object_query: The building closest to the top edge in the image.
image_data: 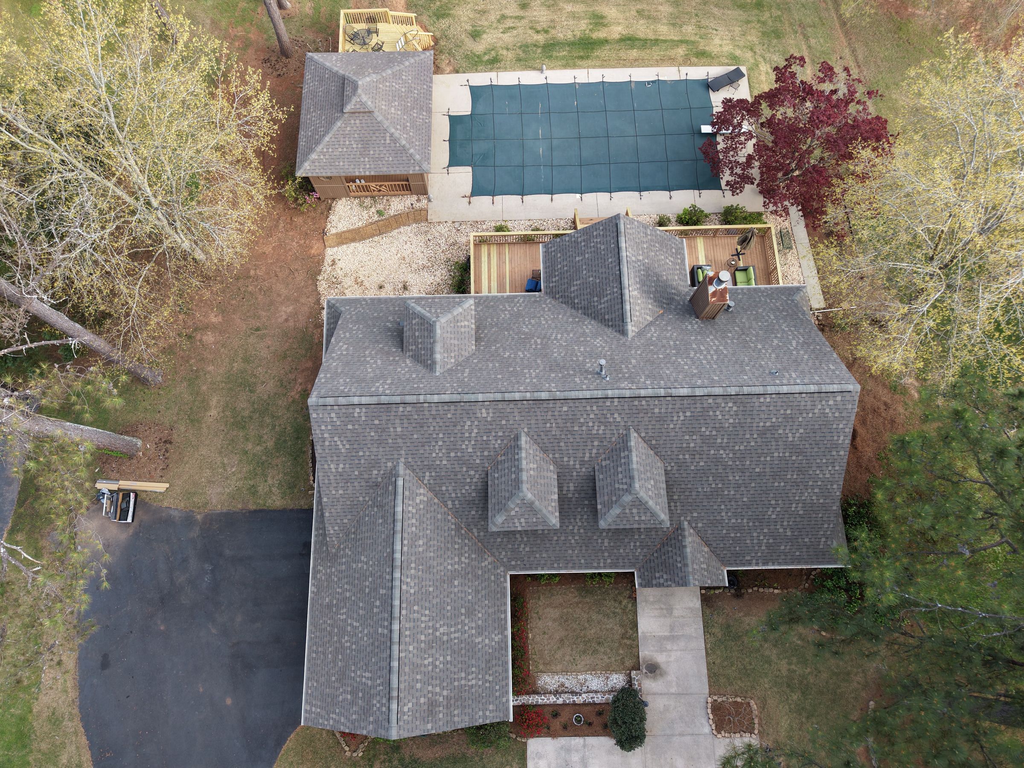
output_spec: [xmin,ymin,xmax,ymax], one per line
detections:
[295,50,435,201]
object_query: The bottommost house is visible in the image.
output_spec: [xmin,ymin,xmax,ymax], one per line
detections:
[300,210,860,743]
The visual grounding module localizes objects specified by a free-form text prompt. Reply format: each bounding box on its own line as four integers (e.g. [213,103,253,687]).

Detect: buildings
[300,210,860,743]
[295,50,435,201]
